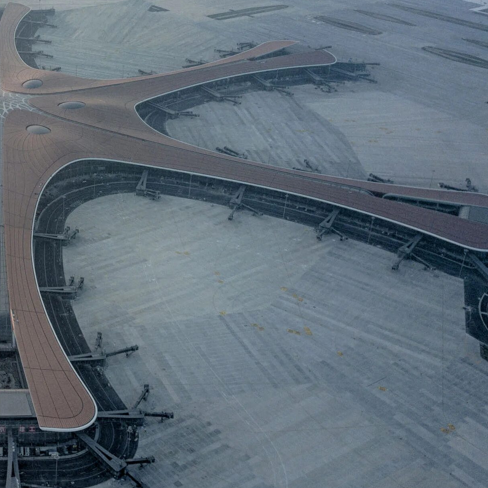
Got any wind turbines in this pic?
No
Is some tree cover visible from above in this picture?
No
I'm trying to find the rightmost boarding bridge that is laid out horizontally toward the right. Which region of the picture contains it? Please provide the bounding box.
[436,179,481,192]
